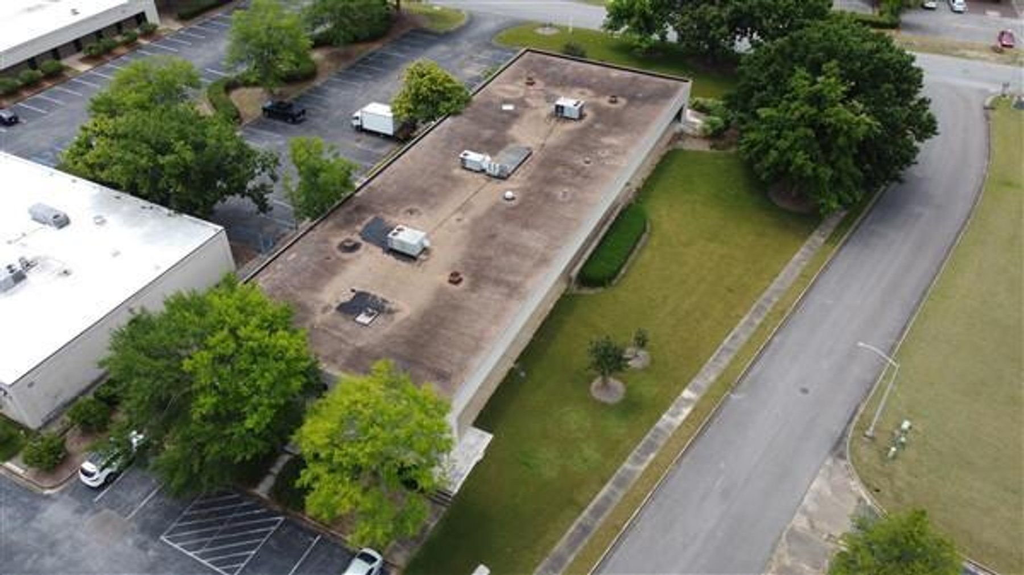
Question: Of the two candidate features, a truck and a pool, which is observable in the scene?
truck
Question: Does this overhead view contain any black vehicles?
Yes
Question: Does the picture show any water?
No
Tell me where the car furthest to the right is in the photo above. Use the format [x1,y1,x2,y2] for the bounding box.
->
[998,28,1018,47]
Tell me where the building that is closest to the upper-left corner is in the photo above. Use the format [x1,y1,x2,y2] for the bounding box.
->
[0,0,160,82]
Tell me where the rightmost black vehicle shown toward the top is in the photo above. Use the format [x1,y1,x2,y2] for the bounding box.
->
[264,95,312,120]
